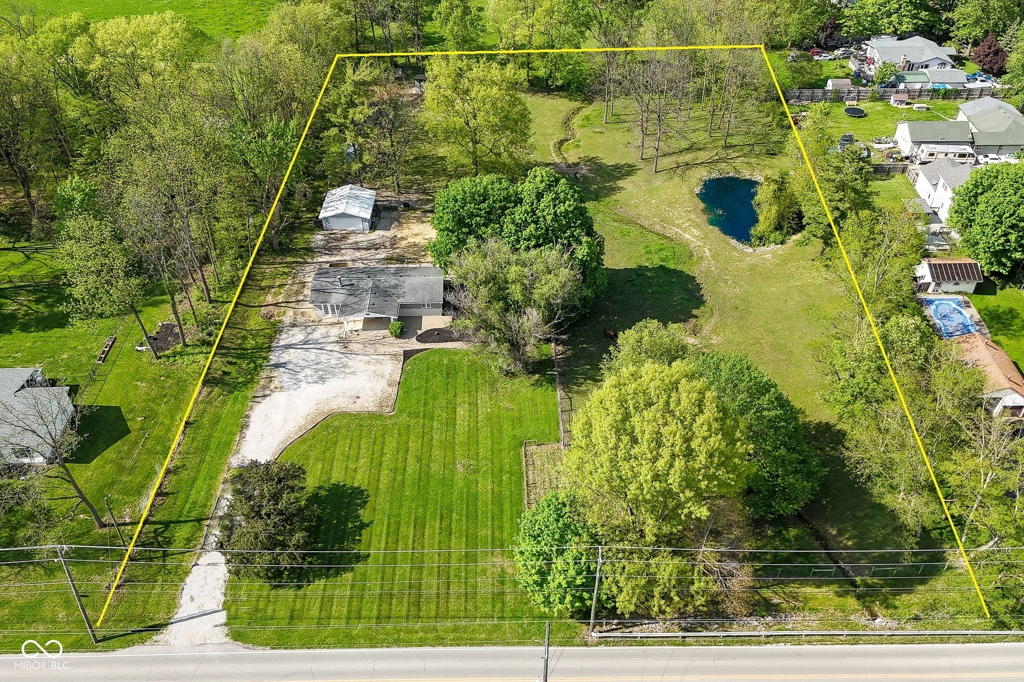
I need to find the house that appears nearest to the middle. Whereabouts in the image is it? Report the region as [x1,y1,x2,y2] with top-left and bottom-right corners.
[308,267,447,340]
